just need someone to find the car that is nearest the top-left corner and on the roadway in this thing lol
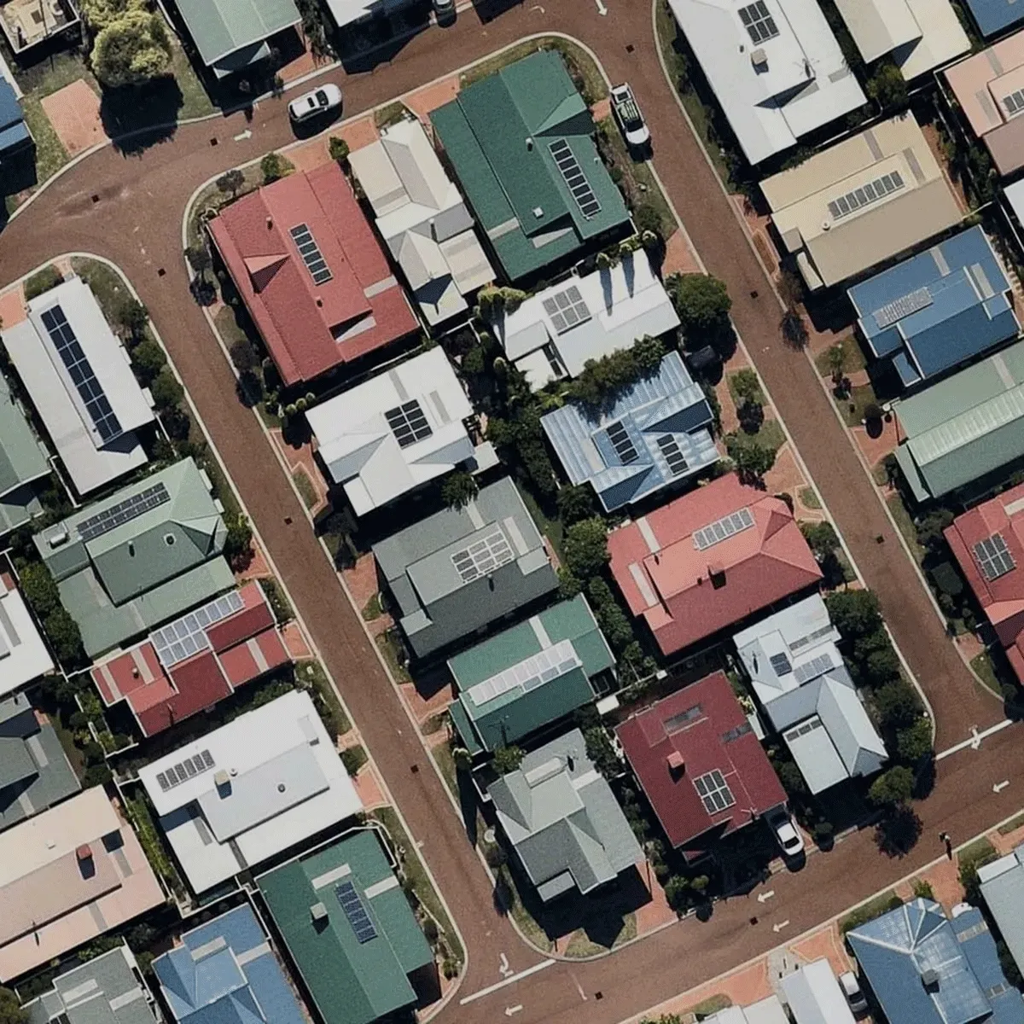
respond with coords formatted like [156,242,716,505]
[289,84,340,121]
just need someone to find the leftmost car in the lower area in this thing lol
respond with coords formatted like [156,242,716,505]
[765,803,804,857]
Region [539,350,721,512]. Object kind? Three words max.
house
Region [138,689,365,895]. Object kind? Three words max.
house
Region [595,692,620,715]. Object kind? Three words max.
shed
